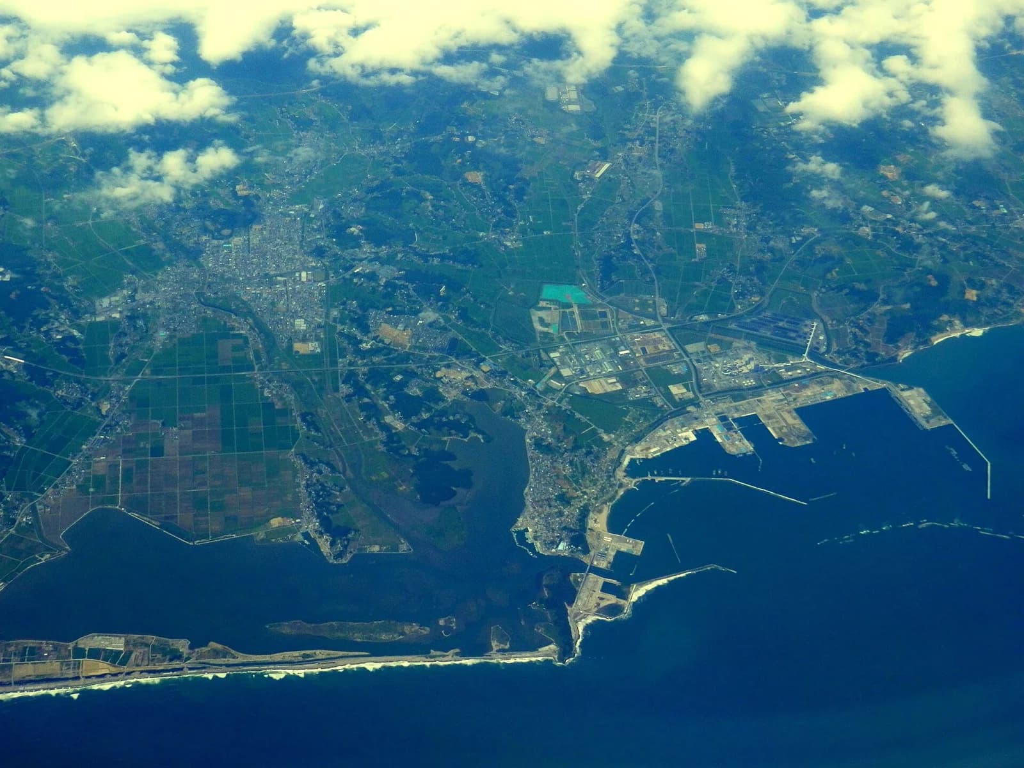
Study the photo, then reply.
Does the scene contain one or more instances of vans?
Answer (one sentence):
No, there isn't any van down there.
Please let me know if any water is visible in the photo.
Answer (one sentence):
Yes, water can be seen from above here.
